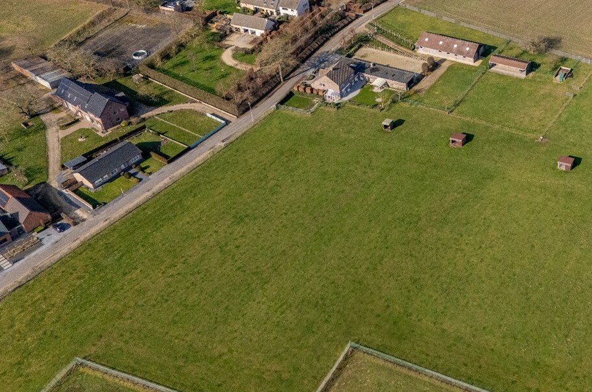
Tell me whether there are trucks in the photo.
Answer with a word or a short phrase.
No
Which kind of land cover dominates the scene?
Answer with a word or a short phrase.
grass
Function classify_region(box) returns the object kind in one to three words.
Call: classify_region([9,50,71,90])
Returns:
barn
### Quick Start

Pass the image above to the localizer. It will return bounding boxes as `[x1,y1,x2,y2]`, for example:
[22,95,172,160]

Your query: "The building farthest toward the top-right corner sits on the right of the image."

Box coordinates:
[486,53,533,79]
